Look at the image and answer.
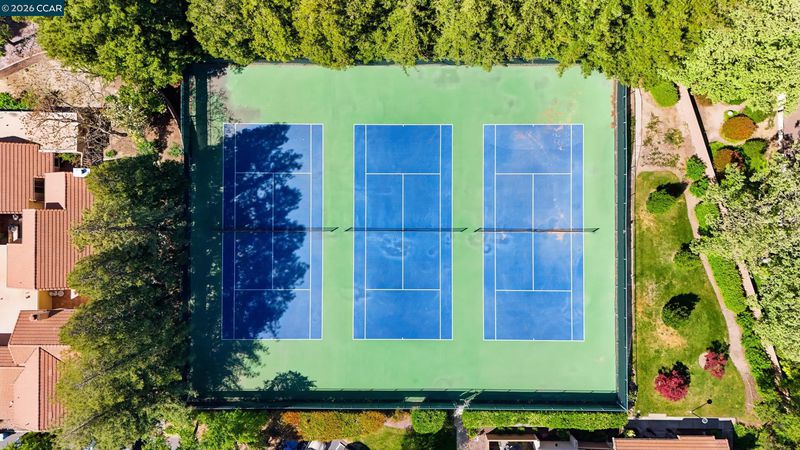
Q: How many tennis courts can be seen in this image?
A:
3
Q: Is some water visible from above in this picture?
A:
No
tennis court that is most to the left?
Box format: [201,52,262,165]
[223,123,323,340]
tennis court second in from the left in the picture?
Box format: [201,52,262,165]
[354,124,452,340]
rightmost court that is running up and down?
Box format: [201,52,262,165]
[484,124,584,341]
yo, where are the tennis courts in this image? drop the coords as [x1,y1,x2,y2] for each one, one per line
[354,124,452,340]
[484,124,584,341]
[223,123,323,340]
